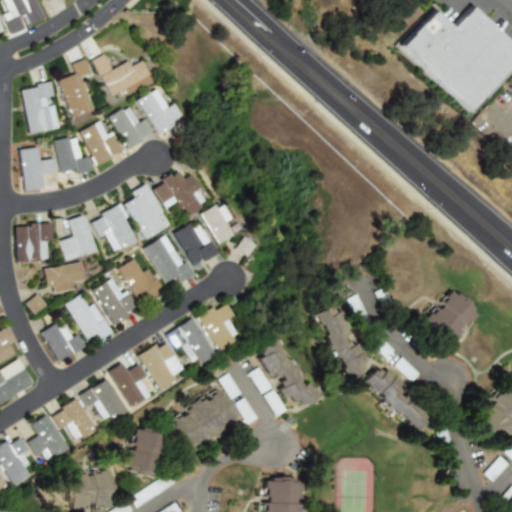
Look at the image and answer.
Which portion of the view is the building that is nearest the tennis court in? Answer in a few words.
bottom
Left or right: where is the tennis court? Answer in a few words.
right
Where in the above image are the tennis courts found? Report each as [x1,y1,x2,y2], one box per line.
[334,457,376,512]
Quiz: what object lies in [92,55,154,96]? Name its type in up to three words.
house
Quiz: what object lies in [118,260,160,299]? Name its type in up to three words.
house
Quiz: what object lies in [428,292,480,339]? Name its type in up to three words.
building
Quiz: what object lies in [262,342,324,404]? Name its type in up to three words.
building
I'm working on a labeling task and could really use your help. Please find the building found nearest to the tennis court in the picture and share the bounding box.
[259,478,310,512]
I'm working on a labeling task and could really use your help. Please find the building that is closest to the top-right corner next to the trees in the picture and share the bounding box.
[404,6,512,112]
